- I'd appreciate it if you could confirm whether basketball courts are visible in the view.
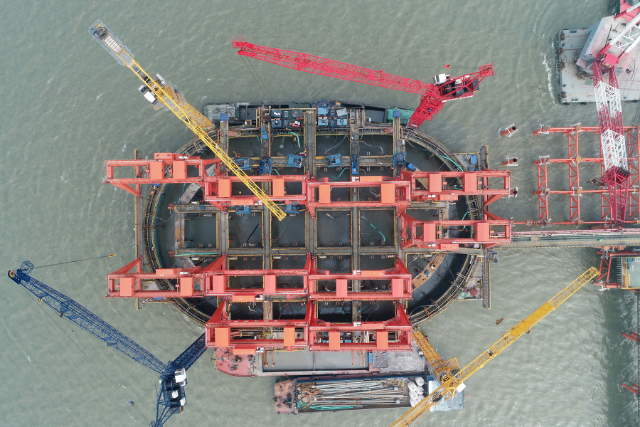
No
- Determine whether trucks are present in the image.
No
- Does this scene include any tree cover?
No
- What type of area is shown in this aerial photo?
port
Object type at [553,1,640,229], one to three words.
crane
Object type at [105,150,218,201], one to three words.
container crane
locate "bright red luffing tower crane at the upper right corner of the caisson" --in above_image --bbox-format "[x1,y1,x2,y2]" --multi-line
[229,24,500,133]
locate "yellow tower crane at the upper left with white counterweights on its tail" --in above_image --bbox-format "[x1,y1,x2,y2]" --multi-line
[83,16,288,220]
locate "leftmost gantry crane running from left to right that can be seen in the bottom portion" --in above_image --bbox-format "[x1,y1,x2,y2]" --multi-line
[105,253,218,304]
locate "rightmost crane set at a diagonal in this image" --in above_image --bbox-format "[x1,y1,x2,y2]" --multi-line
[388,266,599,427]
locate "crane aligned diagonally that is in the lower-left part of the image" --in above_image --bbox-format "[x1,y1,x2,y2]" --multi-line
[0,250,210,427]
